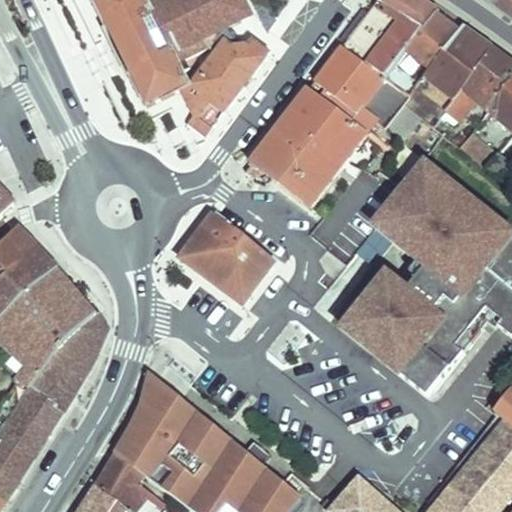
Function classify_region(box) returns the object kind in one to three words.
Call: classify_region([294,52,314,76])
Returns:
vehicle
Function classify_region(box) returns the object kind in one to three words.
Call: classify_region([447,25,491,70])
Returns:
house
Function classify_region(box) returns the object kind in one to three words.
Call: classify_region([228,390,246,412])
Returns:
car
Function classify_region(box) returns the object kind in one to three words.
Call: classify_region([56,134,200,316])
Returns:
roundabout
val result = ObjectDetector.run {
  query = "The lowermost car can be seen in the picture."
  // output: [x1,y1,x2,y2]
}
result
[45,474,61,494]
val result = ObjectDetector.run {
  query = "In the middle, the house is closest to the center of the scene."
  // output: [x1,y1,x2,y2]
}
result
[177,211,276,305]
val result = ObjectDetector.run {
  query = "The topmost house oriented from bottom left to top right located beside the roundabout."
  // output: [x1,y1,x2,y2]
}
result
[180,32,268,130]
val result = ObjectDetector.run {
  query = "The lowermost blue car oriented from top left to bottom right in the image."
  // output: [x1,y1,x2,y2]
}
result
[456,424,477,441]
